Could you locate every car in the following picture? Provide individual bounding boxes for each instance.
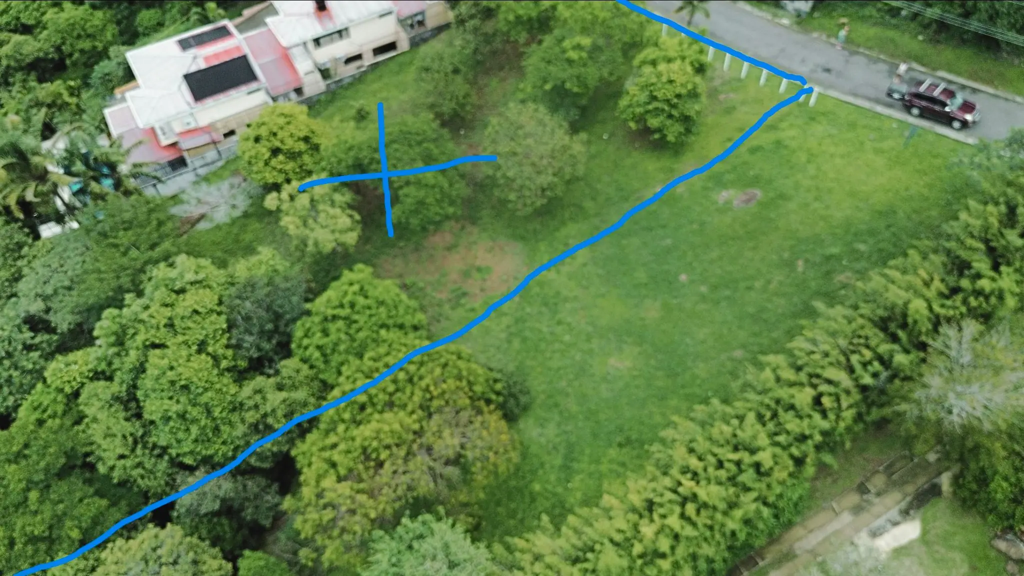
[886,77,986,130]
